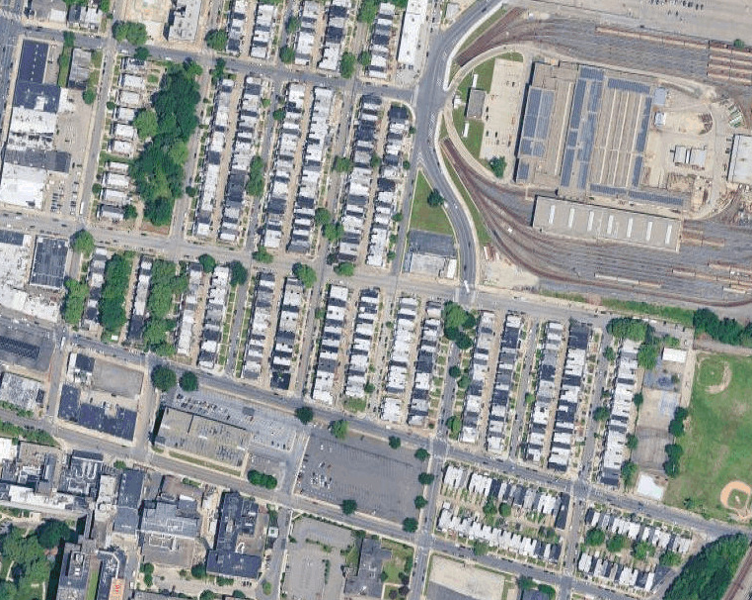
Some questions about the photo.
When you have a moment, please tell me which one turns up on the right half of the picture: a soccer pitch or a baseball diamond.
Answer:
baseball diamond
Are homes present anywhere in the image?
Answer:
Yes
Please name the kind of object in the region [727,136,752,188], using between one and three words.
building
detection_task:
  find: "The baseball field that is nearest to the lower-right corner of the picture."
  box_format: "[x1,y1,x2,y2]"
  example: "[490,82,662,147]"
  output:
[721,480,752,519]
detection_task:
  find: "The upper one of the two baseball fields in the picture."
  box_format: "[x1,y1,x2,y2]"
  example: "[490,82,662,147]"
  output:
[698,357,730,390]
